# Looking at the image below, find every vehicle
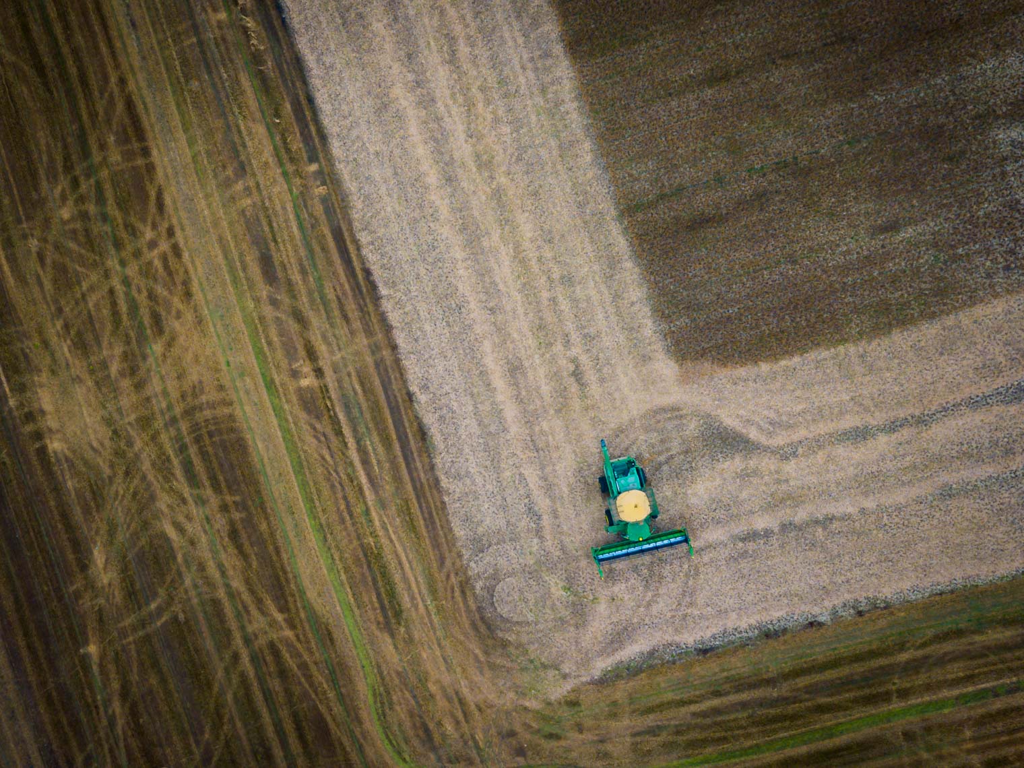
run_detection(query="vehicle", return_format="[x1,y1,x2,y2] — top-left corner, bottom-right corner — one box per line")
[590,437,693,578]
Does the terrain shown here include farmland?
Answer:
Yes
